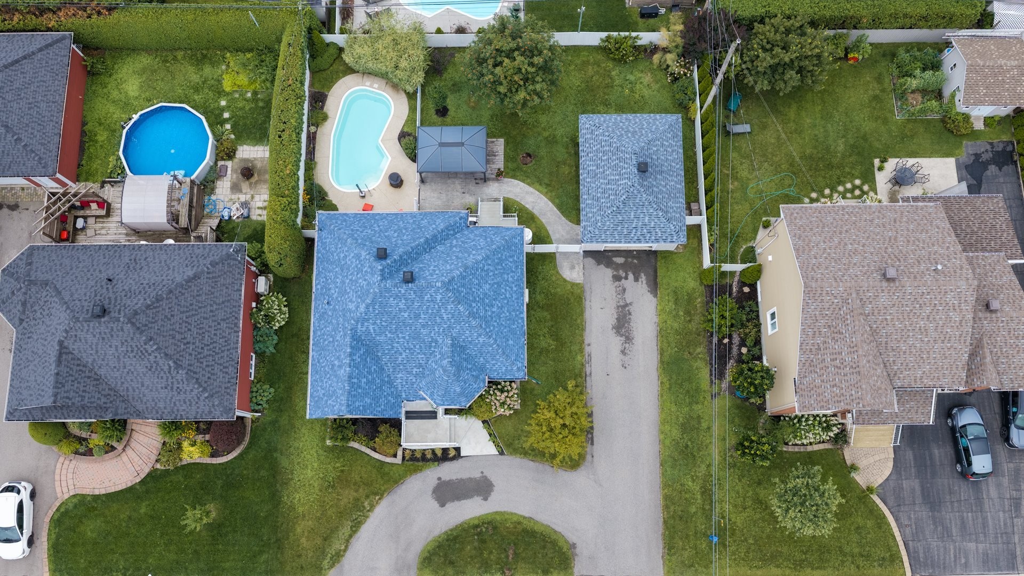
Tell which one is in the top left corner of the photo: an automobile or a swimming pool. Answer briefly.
swimming pool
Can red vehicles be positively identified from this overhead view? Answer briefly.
No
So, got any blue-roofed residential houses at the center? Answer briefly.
Yes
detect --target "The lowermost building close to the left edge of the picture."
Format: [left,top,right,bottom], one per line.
[0,241,259,425]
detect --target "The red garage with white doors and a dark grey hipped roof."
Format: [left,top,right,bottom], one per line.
[0,31,89,185]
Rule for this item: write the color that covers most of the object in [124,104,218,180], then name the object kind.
blue swimming pool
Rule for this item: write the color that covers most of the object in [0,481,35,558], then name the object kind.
white car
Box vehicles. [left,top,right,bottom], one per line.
[945,407,994,480]
[1003,390,1024,447]
[0,481,35,558]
